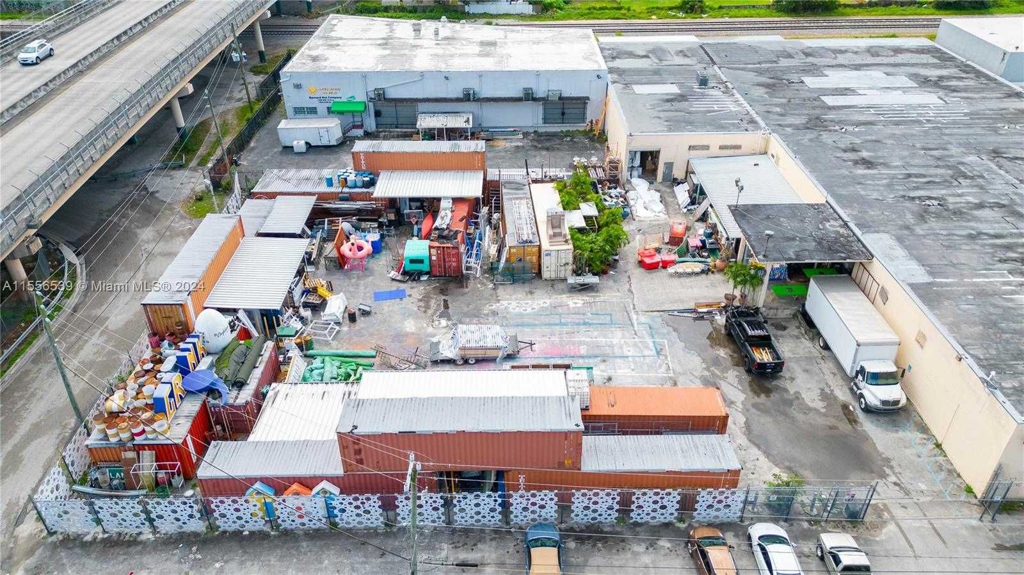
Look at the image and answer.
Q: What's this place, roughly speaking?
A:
industrial area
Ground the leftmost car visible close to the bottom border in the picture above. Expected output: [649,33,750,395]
[521,525,569,575]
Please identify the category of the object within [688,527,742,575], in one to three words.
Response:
car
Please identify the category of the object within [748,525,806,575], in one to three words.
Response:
car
